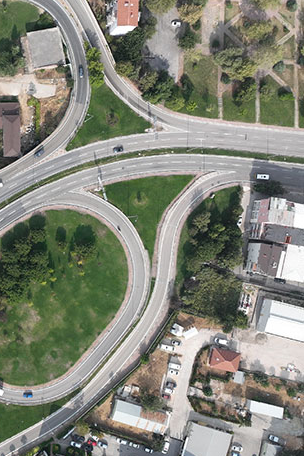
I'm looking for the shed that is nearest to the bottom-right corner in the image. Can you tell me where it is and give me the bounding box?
[256,438,283,456]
